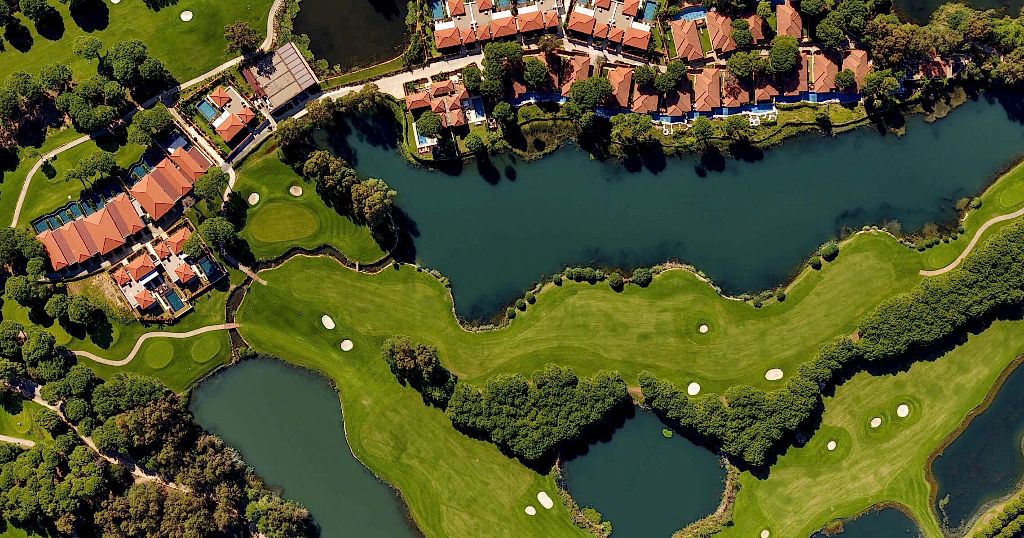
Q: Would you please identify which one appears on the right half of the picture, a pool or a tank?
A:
pool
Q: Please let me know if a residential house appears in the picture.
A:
Yes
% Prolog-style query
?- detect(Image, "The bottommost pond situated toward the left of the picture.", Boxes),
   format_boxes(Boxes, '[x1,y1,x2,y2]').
[191,357,426,538]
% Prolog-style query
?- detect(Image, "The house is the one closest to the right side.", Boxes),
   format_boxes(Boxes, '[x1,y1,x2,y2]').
[904,60,953,81]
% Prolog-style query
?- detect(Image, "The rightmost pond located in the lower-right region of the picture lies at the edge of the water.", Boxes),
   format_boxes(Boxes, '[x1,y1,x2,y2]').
[932,364,1024,533]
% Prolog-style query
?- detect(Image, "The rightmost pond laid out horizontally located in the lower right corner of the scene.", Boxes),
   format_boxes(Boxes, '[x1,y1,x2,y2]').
[811,505,924,538]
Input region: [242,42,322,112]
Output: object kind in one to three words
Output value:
building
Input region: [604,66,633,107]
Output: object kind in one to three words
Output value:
house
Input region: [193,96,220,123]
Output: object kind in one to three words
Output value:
swimming pool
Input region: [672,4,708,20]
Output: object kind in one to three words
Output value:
swimming pool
